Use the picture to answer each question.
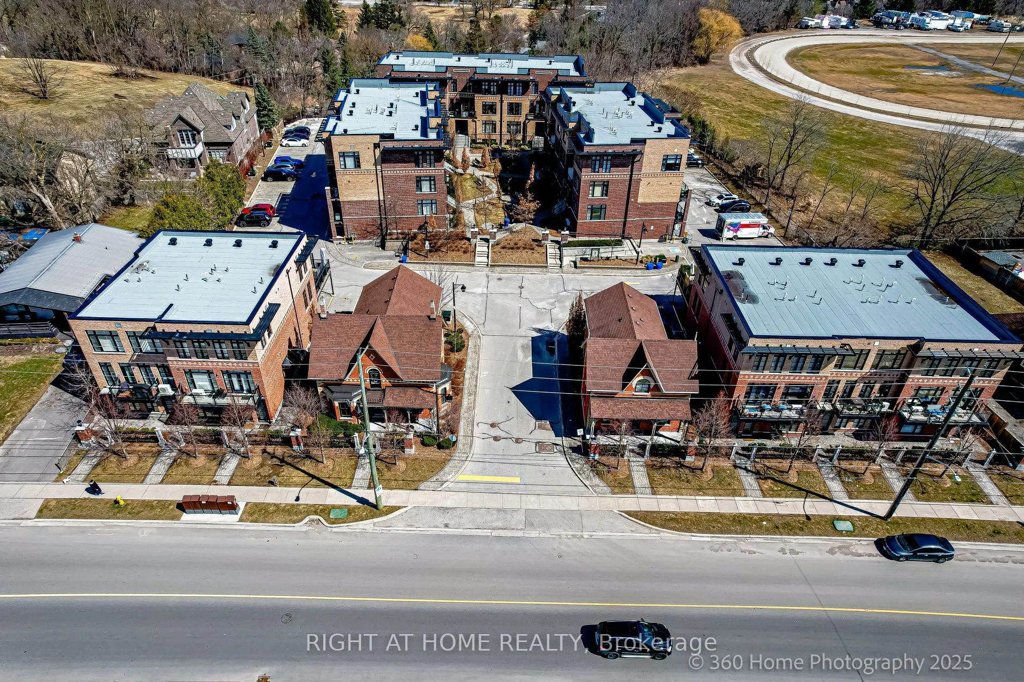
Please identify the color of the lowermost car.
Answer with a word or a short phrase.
black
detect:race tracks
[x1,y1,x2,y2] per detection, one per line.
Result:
[756,35,1024,125]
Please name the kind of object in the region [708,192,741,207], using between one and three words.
car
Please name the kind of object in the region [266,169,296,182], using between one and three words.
vehicle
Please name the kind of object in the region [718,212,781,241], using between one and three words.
truck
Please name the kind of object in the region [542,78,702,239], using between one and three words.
building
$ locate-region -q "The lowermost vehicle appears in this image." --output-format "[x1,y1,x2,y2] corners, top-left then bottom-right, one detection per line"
[595,621,668,661]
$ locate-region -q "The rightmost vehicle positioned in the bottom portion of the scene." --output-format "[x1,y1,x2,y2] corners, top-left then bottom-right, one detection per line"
[878,534,954,568]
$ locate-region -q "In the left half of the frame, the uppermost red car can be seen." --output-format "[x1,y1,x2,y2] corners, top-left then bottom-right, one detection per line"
[244,203,280,217]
